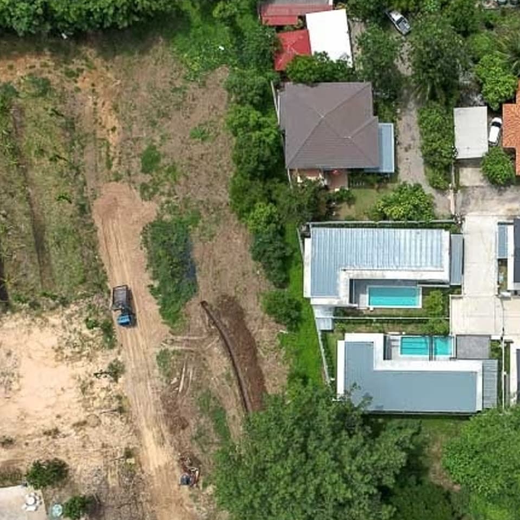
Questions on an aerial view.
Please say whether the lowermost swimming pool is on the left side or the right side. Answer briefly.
right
